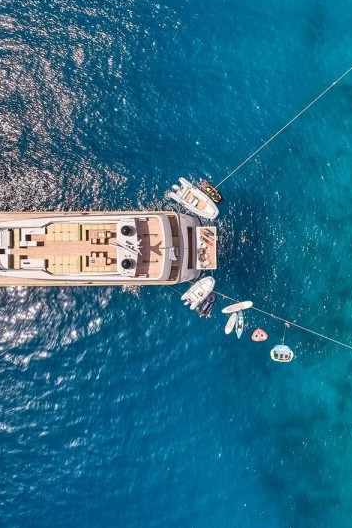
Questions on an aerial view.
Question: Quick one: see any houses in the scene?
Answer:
No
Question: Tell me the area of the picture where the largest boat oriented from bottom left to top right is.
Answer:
center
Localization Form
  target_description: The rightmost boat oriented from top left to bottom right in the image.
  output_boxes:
[199,180,222,200]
